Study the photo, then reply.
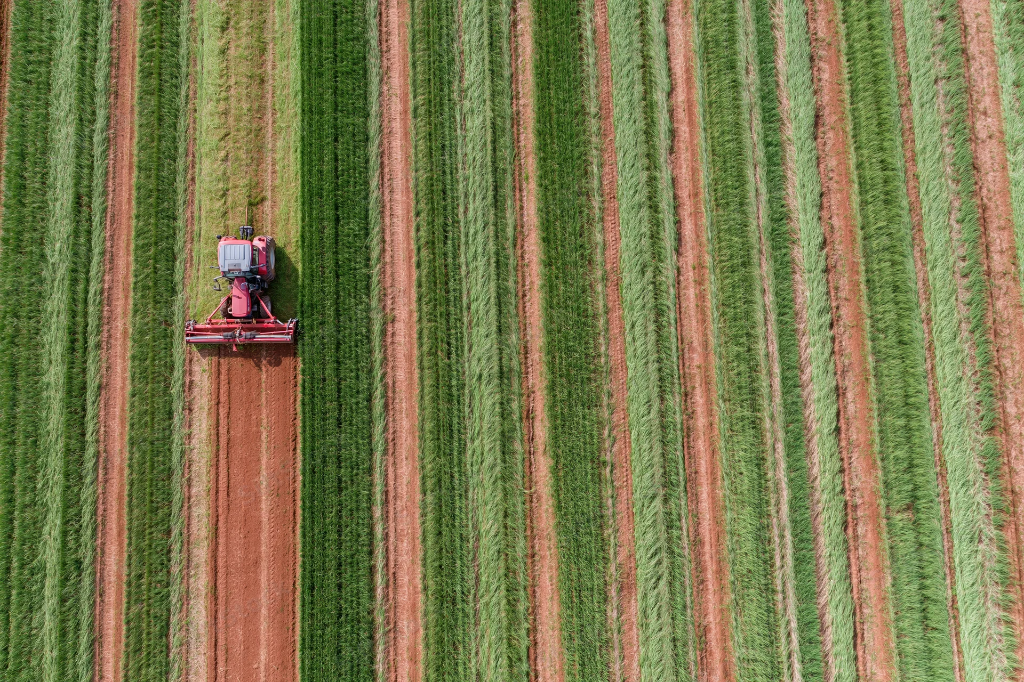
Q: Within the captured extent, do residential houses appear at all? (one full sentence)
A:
No, the frame has no residential house in it.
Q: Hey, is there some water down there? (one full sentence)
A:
No, no water is visible.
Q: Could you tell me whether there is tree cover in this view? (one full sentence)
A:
No, the picture contains no tree cover.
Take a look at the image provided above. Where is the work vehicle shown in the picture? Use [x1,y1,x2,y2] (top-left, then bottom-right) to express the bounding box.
[209,206,278,324]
